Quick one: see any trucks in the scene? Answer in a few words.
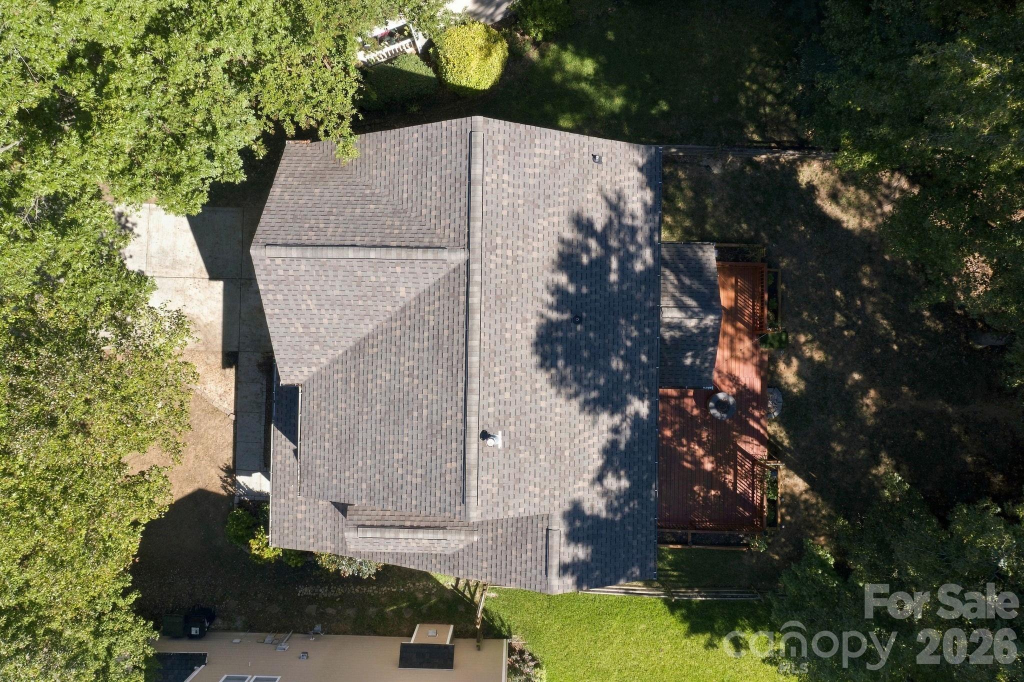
No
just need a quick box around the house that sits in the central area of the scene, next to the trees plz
[253,116,727,598]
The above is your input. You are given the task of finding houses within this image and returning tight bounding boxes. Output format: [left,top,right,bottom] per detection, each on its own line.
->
[70,623,505,682]
[253,116,727,598]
